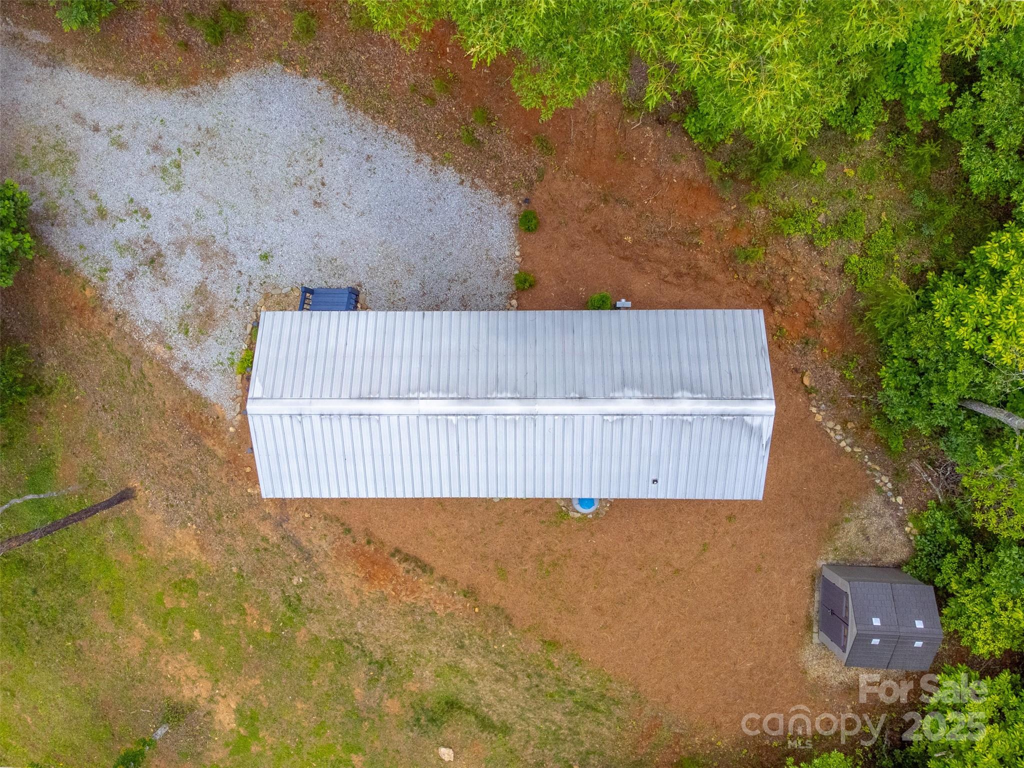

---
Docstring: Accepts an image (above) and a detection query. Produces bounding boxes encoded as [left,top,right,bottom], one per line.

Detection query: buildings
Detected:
[818,565,952,669]
[245,310,778,498]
